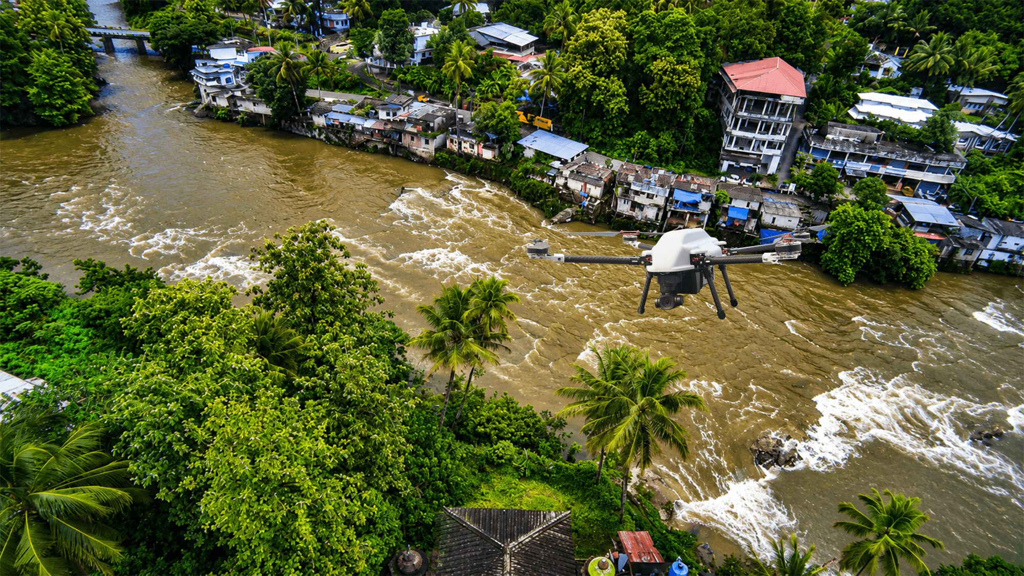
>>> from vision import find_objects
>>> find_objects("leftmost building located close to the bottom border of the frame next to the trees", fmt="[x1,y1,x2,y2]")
[435,506,573,576]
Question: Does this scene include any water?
Yes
